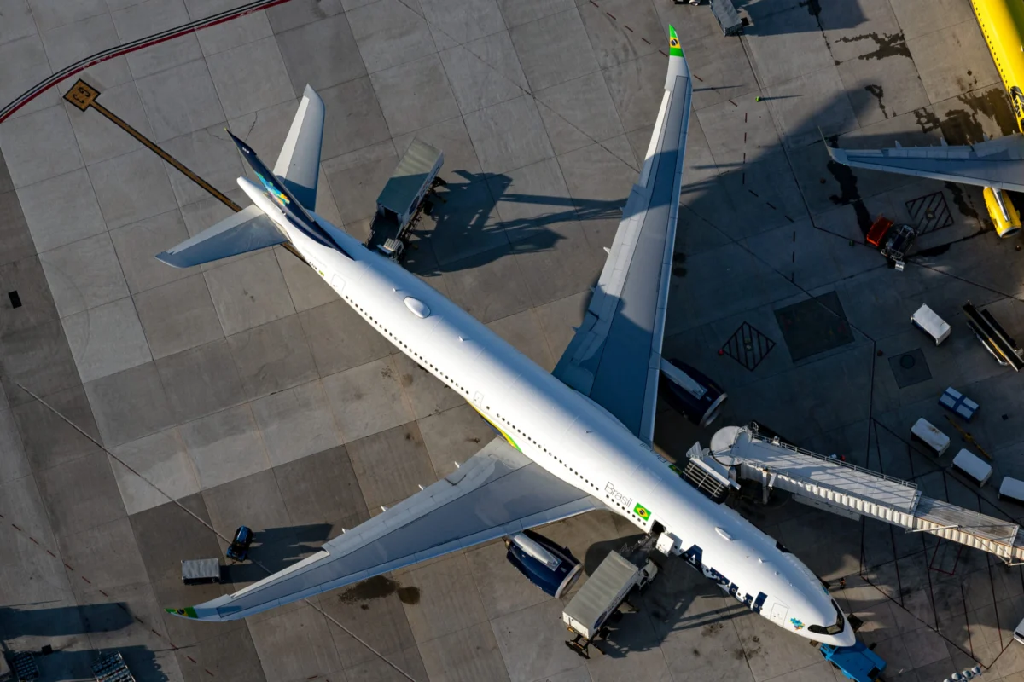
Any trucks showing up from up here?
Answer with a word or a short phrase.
Yes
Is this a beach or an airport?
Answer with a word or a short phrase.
airport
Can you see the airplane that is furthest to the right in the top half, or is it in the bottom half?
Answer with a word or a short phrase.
top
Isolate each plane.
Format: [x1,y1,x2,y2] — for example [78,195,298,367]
[156,18,856,649]
[822,0,1024,237]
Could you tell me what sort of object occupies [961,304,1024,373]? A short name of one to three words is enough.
work vehicle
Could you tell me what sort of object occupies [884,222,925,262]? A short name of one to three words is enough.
vehicle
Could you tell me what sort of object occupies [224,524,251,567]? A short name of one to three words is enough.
work vehicle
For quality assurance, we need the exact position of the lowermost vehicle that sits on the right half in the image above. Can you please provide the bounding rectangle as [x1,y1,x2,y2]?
[816,641,892,682]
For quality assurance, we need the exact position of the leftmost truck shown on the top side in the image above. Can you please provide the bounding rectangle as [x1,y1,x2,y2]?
[361,137,450,260]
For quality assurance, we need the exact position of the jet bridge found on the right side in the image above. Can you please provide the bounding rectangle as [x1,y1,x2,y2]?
[681,420,1024,565]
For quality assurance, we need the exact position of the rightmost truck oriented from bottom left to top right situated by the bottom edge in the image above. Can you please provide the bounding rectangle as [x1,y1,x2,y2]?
[557,528,653,662]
